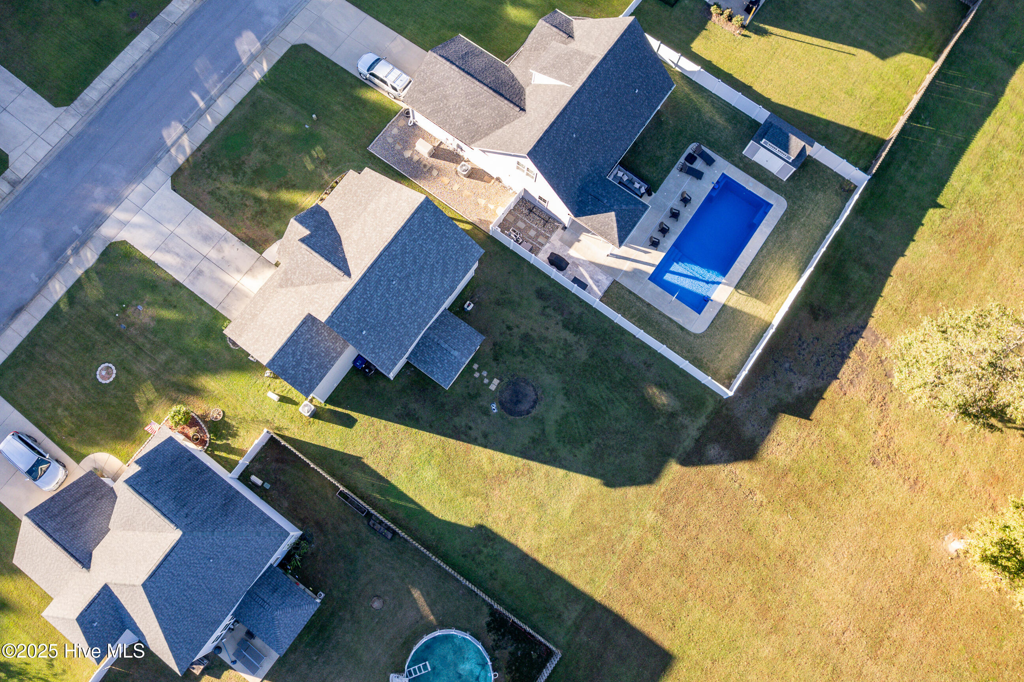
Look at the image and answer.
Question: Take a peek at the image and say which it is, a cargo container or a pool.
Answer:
pool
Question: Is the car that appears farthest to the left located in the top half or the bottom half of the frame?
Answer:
bottom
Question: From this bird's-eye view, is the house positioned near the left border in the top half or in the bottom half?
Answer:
bottom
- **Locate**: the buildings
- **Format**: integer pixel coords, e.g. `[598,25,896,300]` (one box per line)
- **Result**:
[400,8,677,256]
[743,113,815,180]
[223,167,486,405]
[12,425,321,682]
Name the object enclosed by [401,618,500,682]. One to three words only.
swimming pool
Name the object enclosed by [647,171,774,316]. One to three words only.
swimming pool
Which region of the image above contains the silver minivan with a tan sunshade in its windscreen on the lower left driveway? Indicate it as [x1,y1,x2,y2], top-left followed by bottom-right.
[0,432,70,494]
